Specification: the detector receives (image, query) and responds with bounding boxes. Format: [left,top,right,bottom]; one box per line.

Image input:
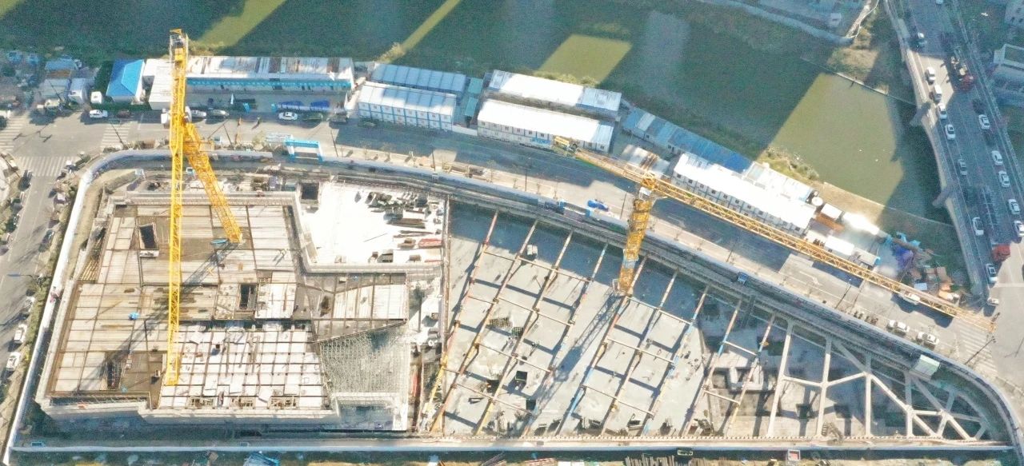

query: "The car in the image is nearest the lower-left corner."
[0,349,22,370]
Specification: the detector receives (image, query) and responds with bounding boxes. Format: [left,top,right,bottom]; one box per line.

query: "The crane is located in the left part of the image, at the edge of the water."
[162,32,243,389]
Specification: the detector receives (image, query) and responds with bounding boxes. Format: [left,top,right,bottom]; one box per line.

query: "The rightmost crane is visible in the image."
[554,135,997,332]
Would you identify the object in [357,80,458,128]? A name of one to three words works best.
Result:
building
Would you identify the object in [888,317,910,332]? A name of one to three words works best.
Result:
car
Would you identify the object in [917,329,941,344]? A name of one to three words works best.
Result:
car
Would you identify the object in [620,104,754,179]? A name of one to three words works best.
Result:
shed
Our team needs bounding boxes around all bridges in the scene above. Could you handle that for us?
[885,0,1024,331]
